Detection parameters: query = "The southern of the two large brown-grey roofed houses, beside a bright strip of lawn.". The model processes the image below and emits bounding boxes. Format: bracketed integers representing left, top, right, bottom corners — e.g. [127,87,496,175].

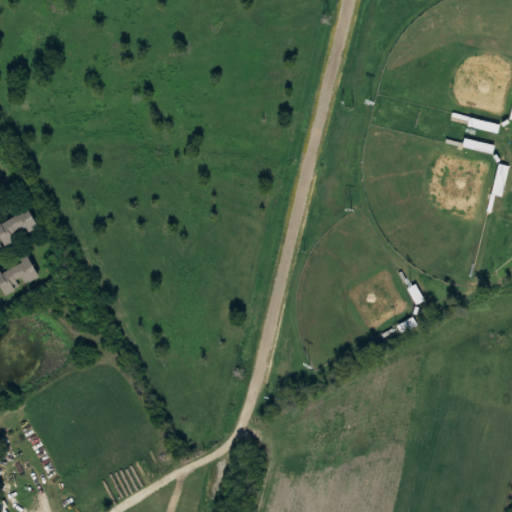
[0,256,40,296]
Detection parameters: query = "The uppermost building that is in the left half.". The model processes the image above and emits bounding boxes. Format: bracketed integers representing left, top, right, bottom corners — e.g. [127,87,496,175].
[0,210,35,246]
